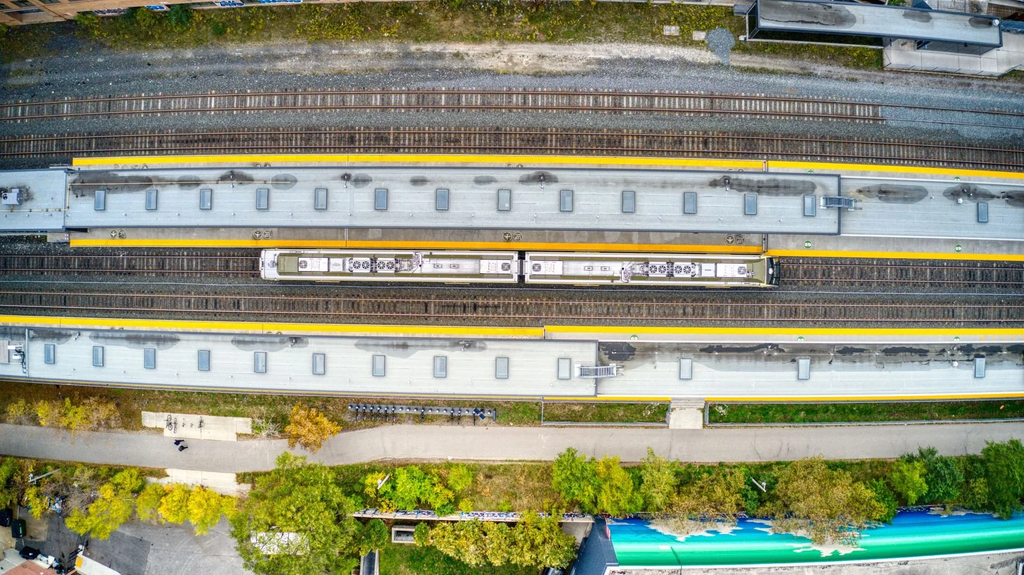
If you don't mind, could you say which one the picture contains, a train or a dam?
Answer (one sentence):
There is a train in the scene.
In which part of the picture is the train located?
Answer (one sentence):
Look in the center portion of the view to spot the train.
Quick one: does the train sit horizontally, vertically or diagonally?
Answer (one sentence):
I'd say the train is aligned horizontally in the picture.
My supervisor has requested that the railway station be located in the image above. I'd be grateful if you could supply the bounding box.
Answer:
[0,153,1024,410]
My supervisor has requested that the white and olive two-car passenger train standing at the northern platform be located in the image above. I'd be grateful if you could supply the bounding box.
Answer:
[261,250,781,288]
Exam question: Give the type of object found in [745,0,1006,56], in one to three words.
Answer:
building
